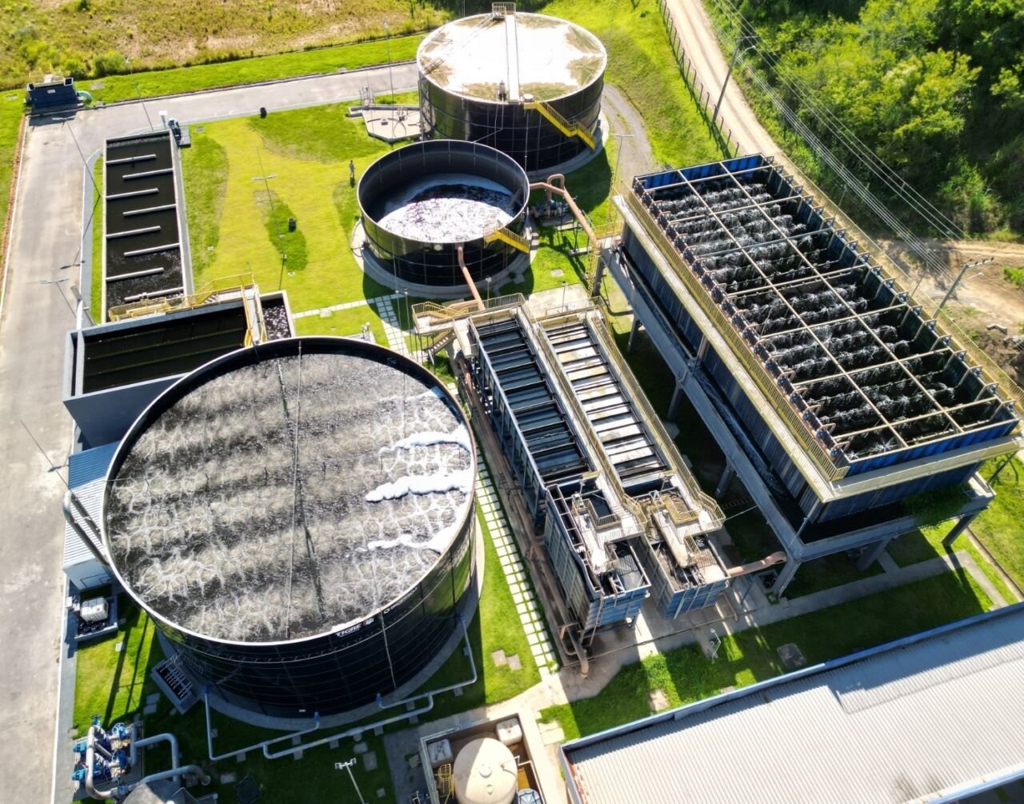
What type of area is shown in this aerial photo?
industrial area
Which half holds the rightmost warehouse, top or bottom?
bottom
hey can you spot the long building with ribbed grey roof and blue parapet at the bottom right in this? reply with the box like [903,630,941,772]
[553,601,1024,804]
